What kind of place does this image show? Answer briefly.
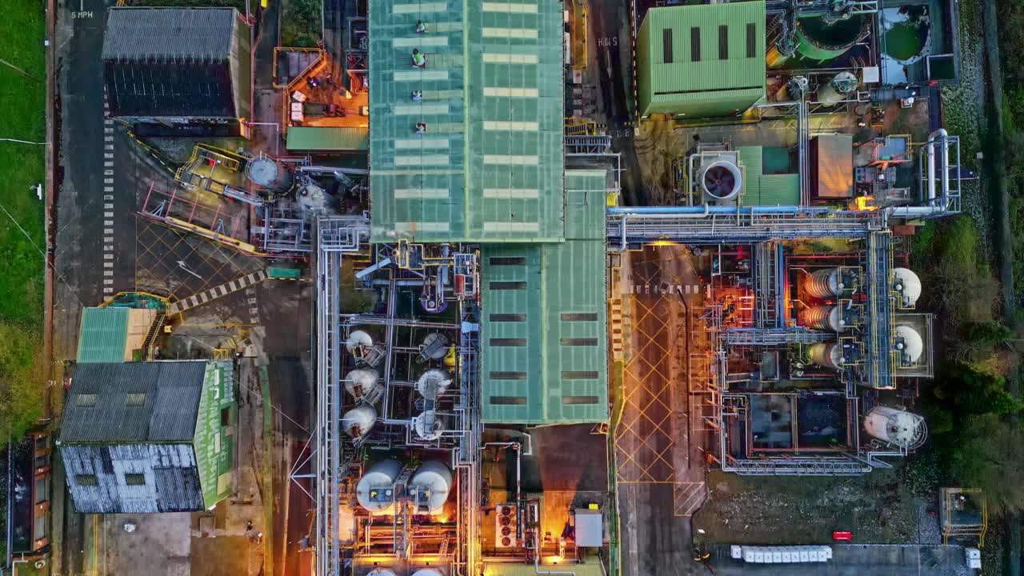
industrial area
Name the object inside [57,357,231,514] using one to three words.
barn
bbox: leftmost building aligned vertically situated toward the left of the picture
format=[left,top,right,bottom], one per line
[7,428,53,570]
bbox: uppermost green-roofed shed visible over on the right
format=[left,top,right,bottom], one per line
[636,0,767,118]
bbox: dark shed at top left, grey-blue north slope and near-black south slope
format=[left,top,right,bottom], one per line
[98,6,258,141]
